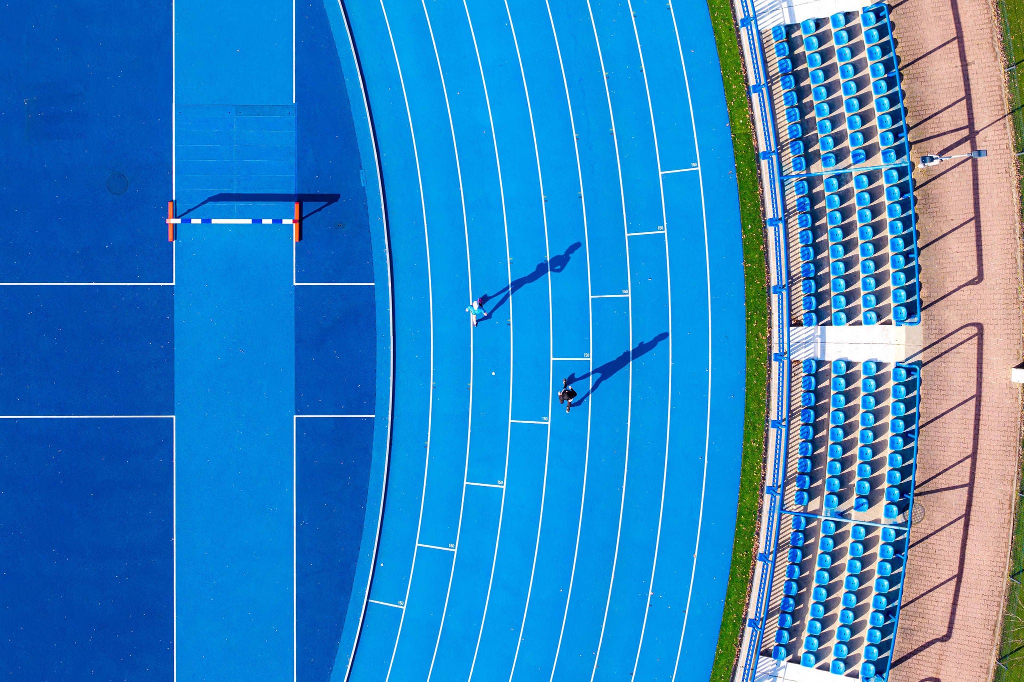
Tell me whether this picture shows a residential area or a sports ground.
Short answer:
sports ground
